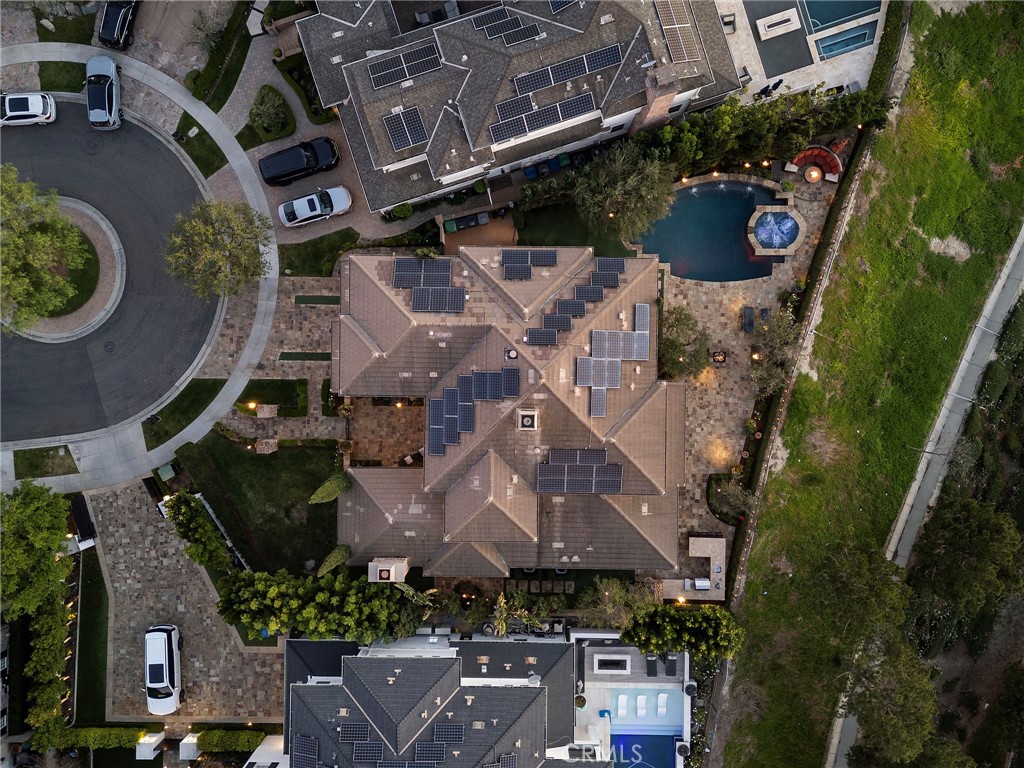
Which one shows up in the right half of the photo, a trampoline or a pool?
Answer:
pool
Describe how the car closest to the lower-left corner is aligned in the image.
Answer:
up and down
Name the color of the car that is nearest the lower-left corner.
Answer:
white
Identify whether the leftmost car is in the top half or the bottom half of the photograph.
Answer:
top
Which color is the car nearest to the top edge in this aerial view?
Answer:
black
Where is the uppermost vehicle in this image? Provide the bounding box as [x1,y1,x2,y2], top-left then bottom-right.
[92,0,136,45]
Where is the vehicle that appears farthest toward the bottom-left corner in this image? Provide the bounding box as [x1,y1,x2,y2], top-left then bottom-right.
[138,629,182,717]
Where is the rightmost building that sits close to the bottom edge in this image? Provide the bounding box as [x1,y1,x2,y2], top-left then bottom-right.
[284,626,610,768]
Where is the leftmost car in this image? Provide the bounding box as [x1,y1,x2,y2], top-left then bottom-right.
[0,90,53,124]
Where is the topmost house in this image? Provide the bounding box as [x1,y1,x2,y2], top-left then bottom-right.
[296,0,742,214]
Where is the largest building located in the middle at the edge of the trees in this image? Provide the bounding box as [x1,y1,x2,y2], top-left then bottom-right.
[330,246,687,582]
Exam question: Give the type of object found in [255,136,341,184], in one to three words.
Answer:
car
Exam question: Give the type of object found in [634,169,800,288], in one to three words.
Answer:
swimming pool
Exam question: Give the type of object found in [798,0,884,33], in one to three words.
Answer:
swimming pool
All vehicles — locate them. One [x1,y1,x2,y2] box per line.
[92,0,136,45]
[79,52,122,129]
[138,629,182,717]
[255,136,341,184]
[275,183,354,227]
[0,90,53,124]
